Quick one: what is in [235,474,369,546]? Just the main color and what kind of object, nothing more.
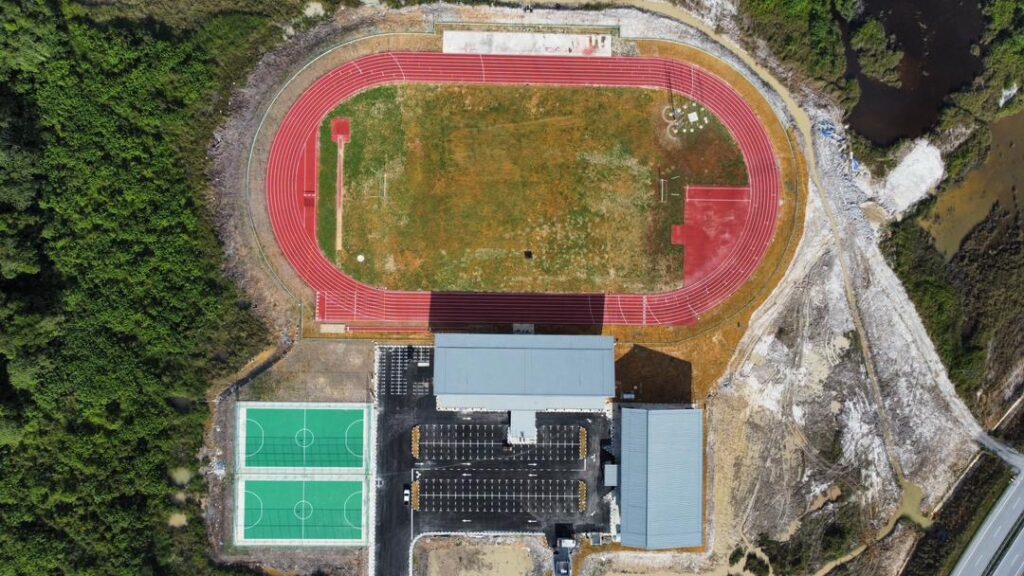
green sports court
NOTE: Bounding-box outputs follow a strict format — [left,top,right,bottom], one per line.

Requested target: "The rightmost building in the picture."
[618,405,705,550]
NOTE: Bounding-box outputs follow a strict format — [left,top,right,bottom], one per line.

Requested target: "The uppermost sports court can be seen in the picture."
[236,402,370,474]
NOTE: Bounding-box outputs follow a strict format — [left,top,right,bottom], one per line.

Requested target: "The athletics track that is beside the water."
[267,53,780,327]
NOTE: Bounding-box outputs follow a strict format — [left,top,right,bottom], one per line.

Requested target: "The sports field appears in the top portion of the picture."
[317,82,750,298]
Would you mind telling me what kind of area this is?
sports ground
